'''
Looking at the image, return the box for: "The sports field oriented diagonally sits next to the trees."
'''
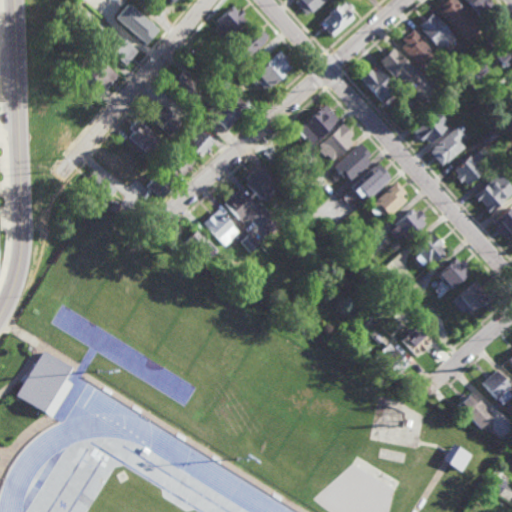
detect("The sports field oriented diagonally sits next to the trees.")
[65,262,372,505]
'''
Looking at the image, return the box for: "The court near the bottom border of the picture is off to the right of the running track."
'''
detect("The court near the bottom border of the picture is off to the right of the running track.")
[314,456,399,512]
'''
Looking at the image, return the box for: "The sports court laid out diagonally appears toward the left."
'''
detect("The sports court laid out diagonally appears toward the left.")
[52,306,196,406]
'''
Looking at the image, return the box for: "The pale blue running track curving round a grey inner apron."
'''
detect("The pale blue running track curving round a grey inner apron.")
[0,374,298,512]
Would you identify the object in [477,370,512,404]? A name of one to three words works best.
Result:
house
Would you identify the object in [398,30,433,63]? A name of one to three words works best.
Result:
house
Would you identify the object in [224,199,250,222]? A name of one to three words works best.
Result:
building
